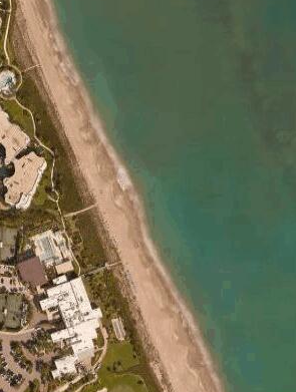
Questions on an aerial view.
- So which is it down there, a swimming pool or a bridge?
swimming pool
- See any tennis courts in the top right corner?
No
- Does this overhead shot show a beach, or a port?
beach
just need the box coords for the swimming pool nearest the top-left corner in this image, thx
[0,69,18,93]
